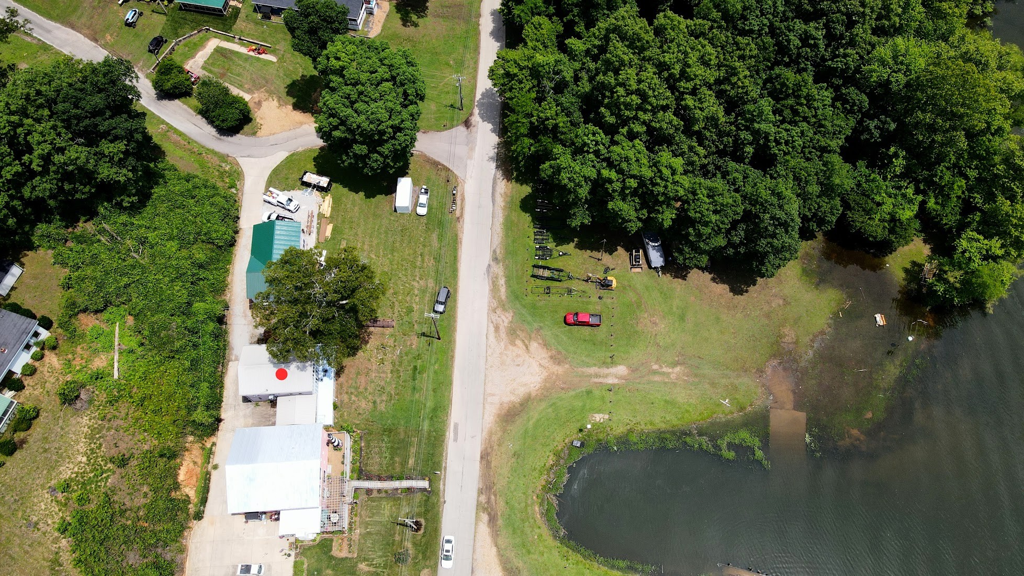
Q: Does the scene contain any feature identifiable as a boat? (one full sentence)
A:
Yes, there is a boat in the image.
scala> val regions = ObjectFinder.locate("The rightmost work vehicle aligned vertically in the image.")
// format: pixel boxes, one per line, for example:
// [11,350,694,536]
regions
[631,247,644,272]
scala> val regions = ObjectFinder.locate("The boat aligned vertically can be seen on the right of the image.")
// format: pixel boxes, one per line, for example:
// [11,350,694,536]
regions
[643,228,668,278]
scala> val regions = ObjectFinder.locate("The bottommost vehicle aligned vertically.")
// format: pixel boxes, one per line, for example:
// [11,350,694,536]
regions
[440,533,456,570]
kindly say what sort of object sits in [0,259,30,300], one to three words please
shed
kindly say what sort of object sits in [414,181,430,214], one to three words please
vehicle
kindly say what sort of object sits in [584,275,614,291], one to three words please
work vehicle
